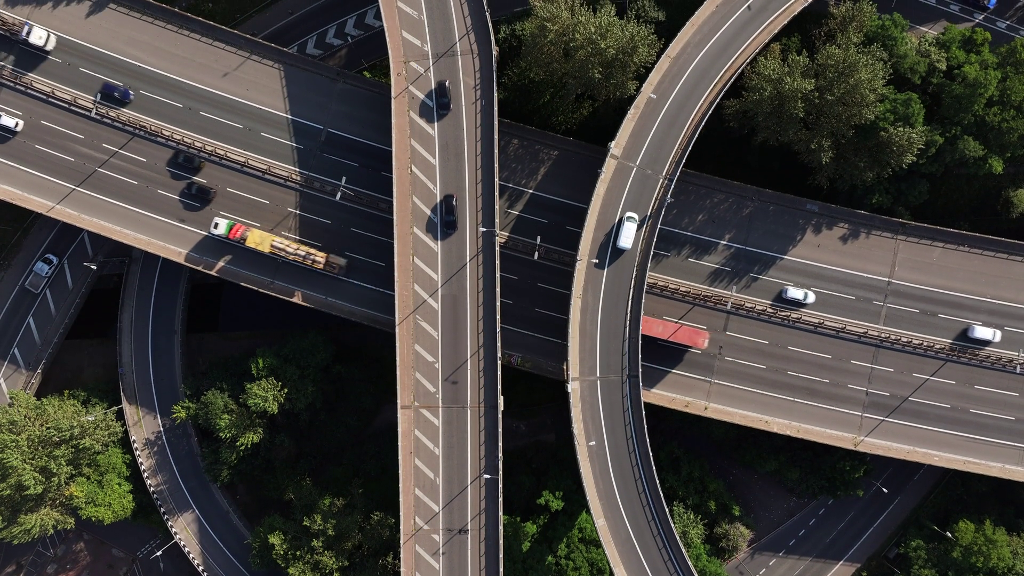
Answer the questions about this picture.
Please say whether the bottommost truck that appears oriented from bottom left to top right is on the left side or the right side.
left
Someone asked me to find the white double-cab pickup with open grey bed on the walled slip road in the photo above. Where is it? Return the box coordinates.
[25,254,58,295]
